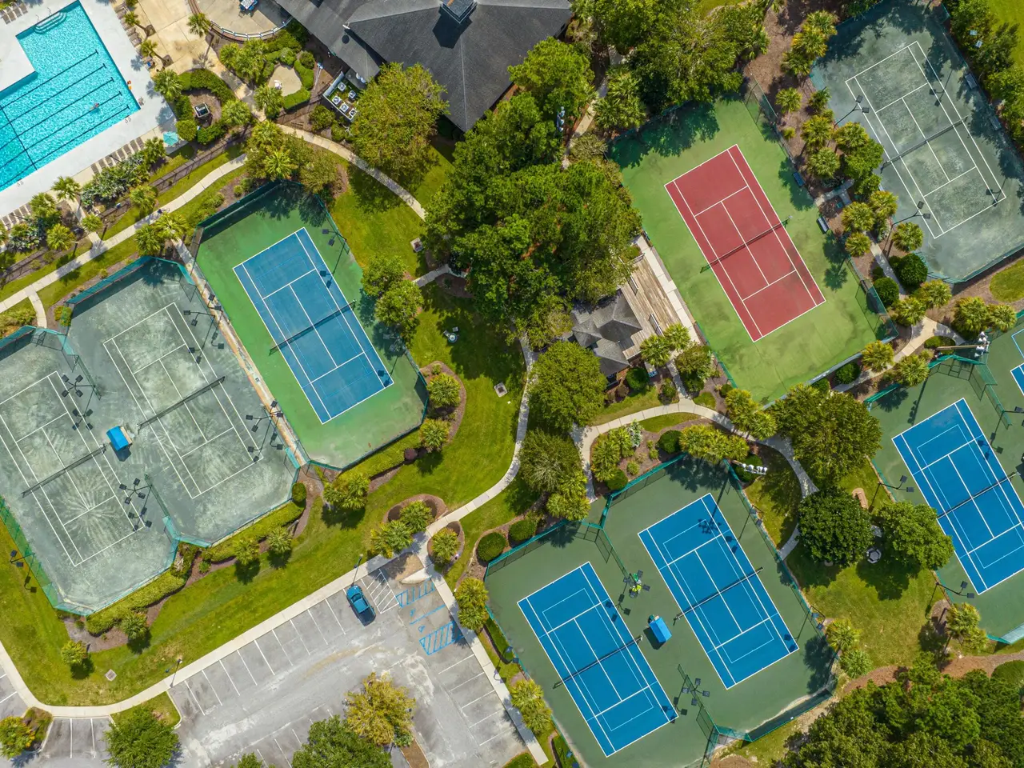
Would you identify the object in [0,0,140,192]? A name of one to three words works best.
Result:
swimming pool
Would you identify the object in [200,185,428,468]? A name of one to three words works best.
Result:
tennis court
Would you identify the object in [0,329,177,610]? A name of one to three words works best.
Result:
tennis court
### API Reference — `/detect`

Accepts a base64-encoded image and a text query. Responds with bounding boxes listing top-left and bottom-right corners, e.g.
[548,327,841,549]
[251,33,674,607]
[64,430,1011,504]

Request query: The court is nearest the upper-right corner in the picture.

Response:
[803,8,1024,282]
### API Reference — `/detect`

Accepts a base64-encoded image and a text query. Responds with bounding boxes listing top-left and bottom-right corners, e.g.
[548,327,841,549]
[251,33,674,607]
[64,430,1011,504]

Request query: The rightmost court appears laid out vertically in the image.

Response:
[976,320,1024,440]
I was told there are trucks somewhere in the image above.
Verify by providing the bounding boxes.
[347,586,379,630]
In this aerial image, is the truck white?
No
